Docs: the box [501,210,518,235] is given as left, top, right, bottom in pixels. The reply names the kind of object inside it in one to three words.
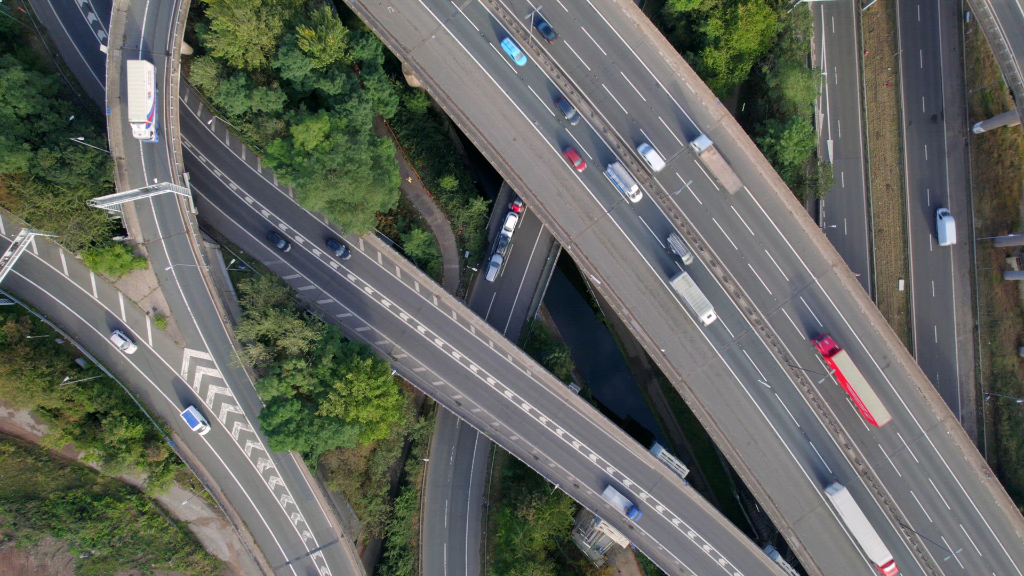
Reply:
car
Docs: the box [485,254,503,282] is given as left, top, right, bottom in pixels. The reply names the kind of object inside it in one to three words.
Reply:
car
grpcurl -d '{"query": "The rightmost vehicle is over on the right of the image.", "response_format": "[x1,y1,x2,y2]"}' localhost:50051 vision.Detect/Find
[934,209,956,244]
